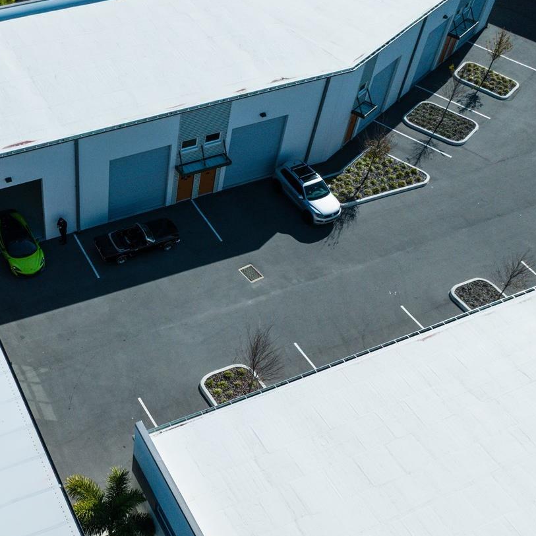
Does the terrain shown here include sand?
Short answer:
No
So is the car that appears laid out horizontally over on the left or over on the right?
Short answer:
left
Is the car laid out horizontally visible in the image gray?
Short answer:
No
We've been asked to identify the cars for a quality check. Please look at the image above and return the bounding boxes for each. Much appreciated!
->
[94,212,187,259]
[273,156,342,221]
[0,208,41,277]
